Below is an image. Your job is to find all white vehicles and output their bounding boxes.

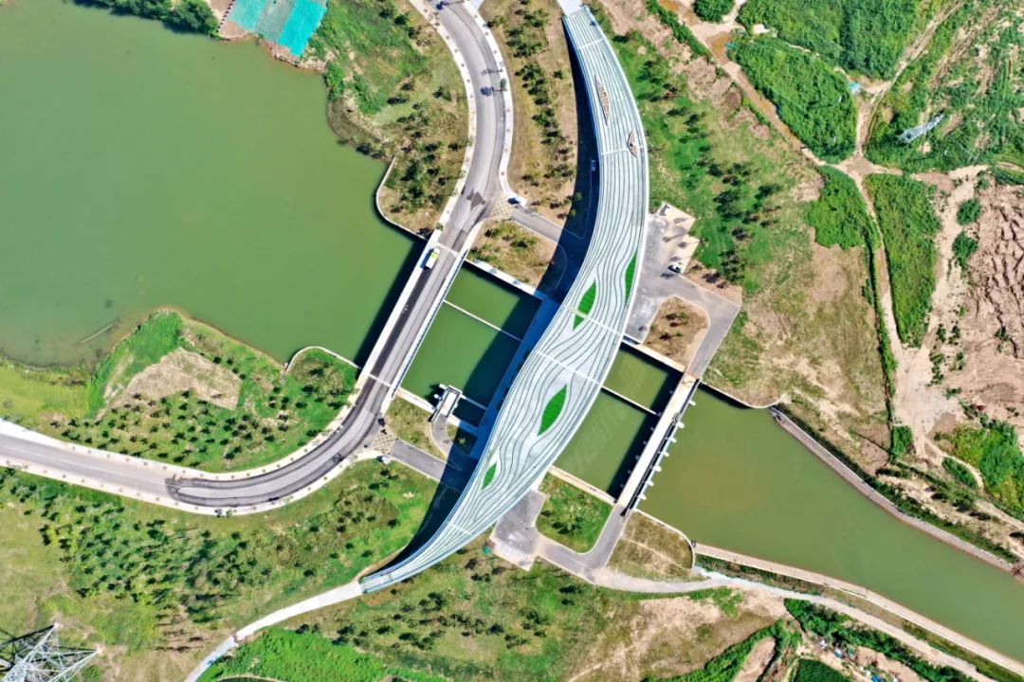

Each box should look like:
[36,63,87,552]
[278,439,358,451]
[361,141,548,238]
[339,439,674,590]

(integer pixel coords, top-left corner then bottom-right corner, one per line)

[671,263,682,271]
[426,249,440,269]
